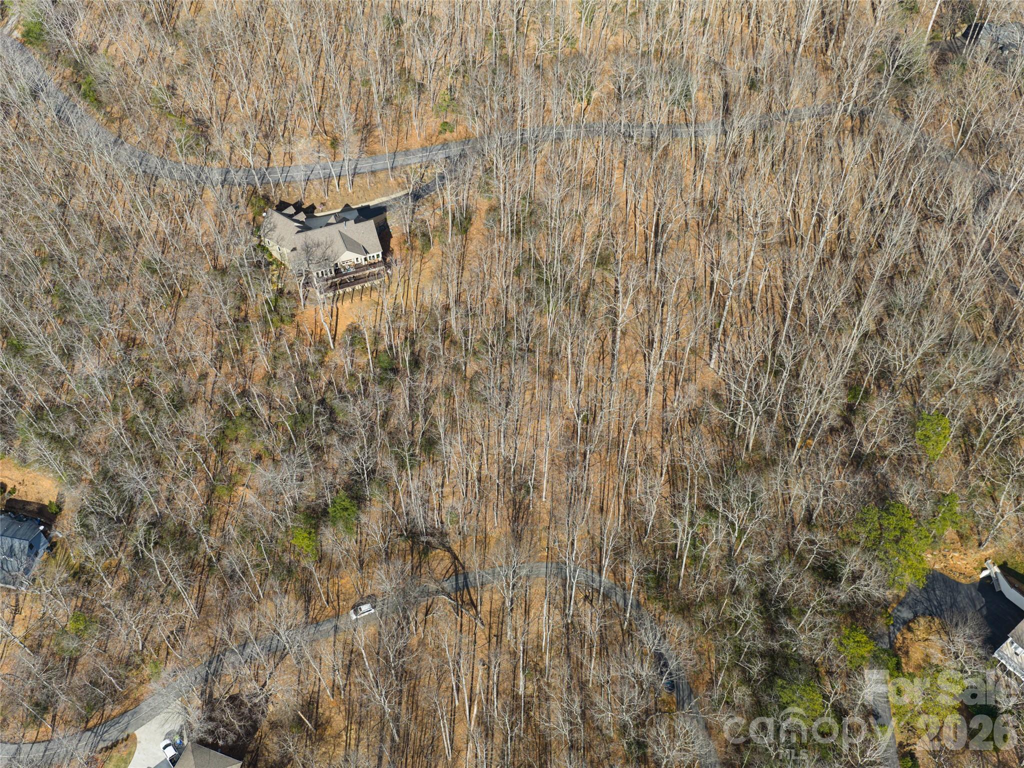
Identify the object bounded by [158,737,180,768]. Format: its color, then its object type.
white truck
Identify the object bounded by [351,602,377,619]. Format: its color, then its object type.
white car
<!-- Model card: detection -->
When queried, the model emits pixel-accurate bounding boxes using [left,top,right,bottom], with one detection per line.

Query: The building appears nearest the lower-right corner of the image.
[970,617,1024,707]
